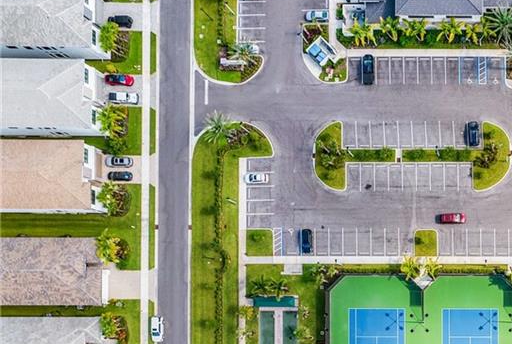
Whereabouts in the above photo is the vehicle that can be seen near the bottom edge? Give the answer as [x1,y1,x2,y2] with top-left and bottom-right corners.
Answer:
[150,317,165,341]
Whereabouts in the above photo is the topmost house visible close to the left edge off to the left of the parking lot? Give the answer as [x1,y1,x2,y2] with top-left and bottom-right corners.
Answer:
[0,0,108,55]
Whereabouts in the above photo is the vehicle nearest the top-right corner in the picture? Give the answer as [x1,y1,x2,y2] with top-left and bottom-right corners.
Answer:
[466,121,479,147]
